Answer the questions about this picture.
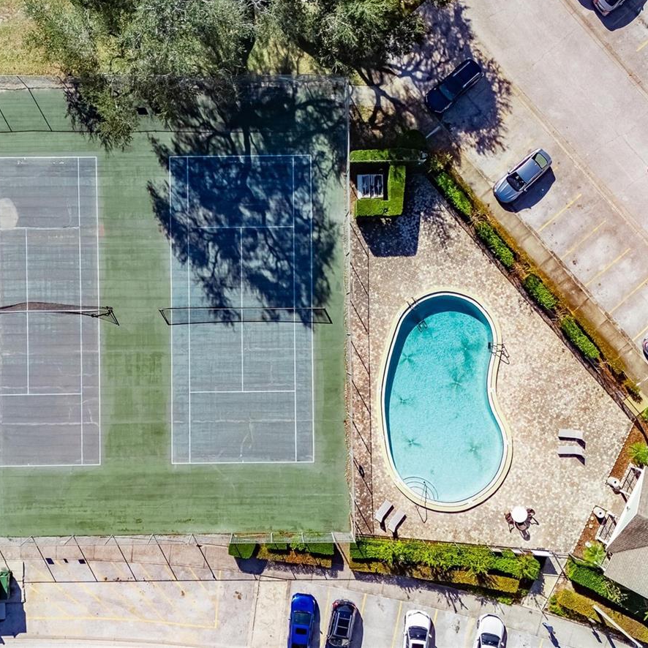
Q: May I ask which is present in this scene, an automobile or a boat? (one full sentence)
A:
Of the two, only an automobile appears.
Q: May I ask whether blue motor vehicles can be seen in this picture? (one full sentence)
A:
Yes, a blue motor vehicle appears in the view.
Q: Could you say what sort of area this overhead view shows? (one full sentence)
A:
The picture captures a sports ground.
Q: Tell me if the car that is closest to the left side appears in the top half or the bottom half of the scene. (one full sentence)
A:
It is in the bottom half that the car that is closest to the left side appears.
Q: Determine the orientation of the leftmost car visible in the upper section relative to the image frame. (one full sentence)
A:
Seen from above, the leftmost car visible in the upper section lies on a diagonal.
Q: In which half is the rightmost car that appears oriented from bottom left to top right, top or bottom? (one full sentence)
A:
The rightmost car that appears oriented from bottom left to top right sits in the top half of the picture.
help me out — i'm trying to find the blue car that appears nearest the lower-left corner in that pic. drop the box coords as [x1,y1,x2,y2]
[289,594,319,648]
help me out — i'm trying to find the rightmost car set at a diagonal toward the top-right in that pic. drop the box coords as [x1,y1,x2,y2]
[497,149,554,201]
